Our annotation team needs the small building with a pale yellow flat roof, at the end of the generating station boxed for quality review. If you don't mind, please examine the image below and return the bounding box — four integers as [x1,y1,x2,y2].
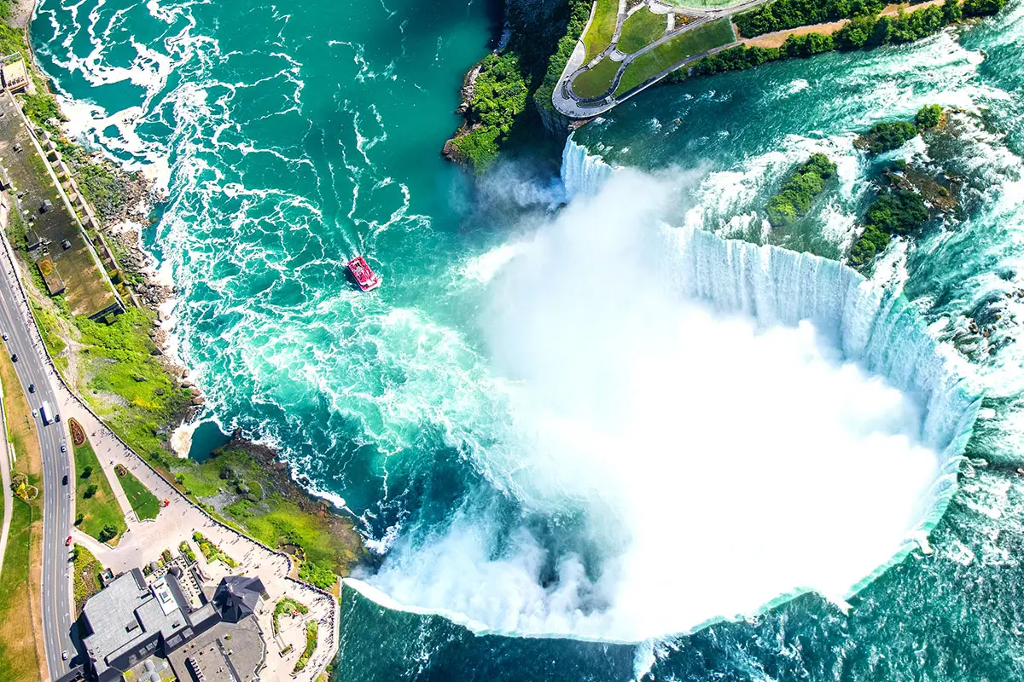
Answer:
[0,49,34,94]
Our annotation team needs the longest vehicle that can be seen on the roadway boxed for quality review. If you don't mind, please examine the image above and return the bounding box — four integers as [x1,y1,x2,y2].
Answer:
[41,405,53,424]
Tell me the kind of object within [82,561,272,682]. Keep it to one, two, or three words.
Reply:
building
